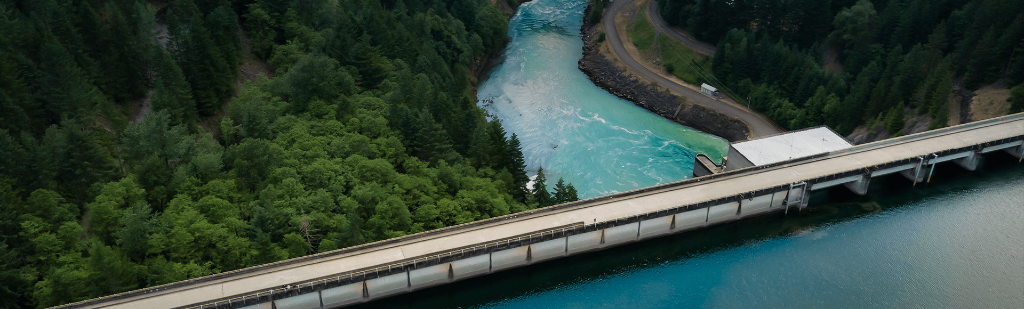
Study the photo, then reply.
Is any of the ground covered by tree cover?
Yes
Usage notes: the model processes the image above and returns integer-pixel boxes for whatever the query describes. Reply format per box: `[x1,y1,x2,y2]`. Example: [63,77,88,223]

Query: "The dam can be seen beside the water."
[36,113,1024,309]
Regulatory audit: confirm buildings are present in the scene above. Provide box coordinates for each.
[728,122,859,171]
[700,85,721,101]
